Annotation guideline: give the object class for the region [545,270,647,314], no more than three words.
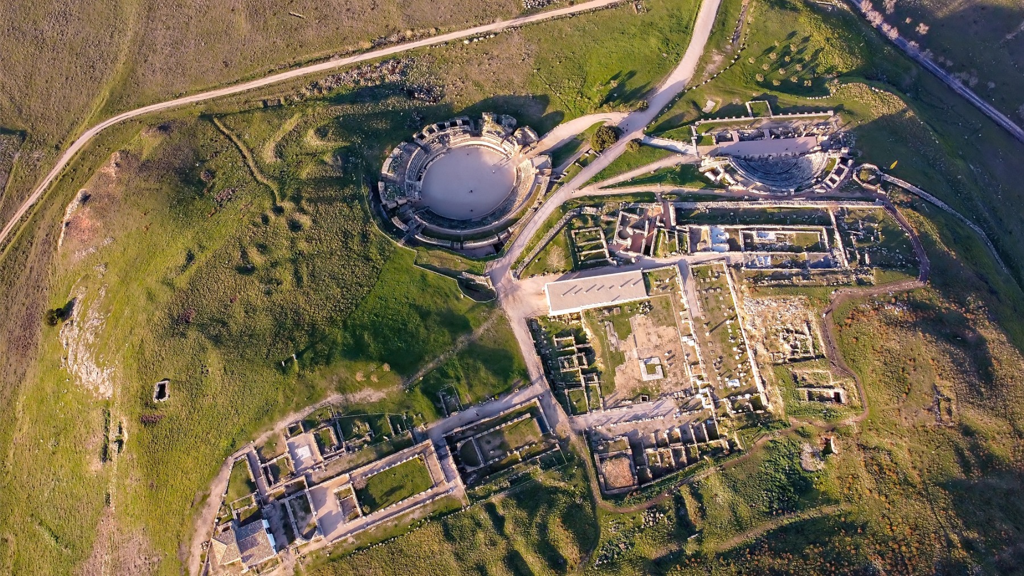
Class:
building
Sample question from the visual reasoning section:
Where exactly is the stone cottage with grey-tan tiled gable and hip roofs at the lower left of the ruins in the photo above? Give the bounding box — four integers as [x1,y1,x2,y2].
[212,519,282,567]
